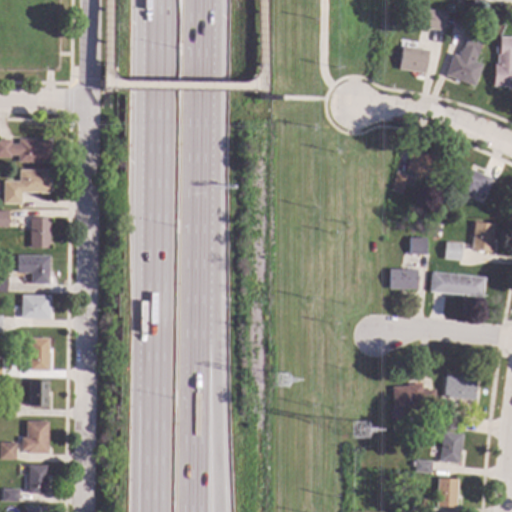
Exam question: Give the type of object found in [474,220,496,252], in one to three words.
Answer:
house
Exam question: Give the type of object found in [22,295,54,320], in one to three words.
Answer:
house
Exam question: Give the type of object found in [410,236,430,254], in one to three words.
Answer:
building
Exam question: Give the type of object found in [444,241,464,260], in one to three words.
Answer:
building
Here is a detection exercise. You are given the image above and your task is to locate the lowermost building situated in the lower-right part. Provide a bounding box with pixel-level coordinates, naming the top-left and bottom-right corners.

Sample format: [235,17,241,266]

[438,478,460,507]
